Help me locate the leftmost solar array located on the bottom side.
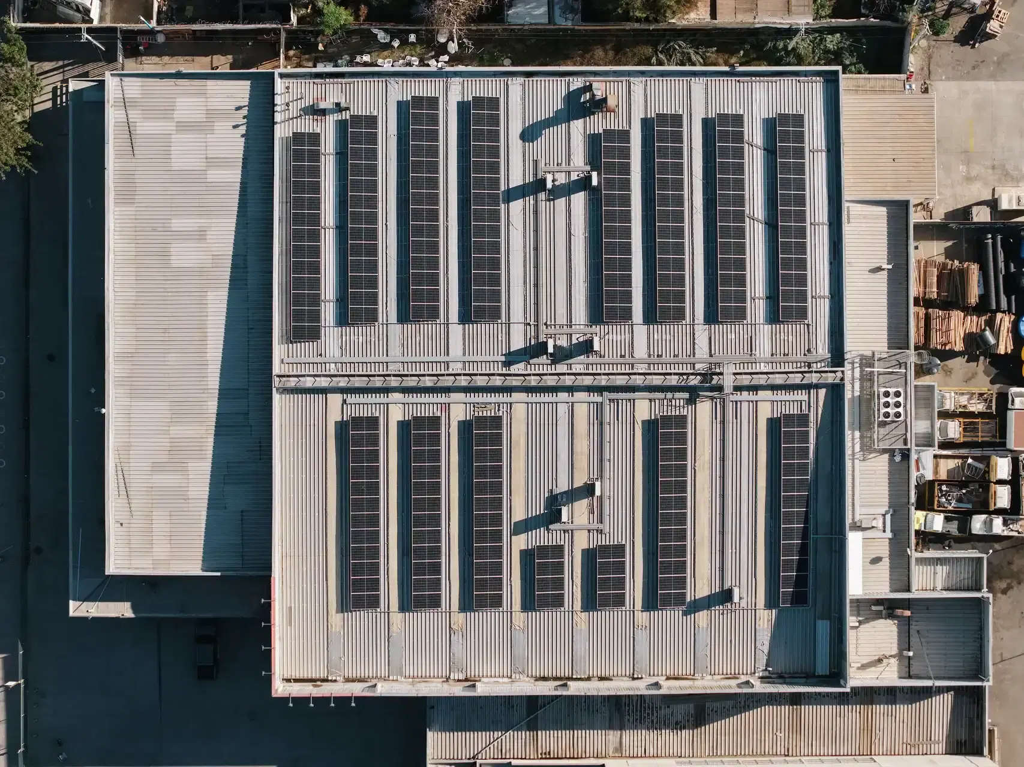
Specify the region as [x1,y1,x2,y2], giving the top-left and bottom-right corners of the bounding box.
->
[350,414,380,610]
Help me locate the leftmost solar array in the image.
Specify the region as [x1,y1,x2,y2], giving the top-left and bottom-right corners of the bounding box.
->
[291,131,321,341]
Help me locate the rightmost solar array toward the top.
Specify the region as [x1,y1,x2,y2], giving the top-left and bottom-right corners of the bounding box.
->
[777,111,808,322]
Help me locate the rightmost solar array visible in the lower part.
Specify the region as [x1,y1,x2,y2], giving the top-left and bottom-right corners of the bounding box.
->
[781,413,810,606]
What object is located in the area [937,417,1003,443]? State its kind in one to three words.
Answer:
truck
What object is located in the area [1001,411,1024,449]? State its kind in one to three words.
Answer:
truck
